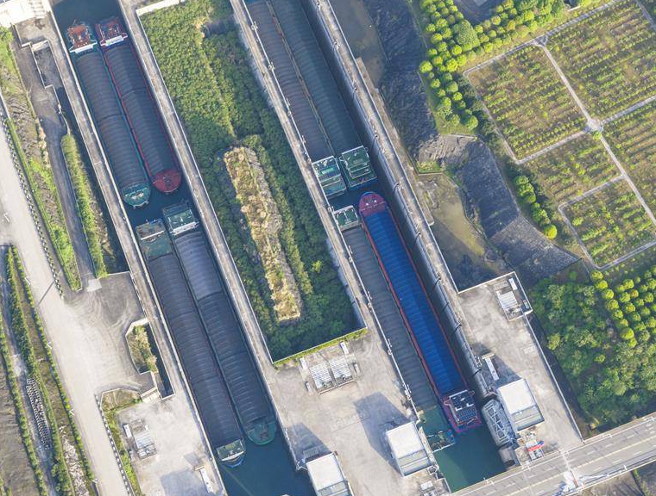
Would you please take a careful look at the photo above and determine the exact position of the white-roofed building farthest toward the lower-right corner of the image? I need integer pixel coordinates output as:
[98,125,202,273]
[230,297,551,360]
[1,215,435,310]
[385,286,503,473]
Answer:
[494,377,544,434]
